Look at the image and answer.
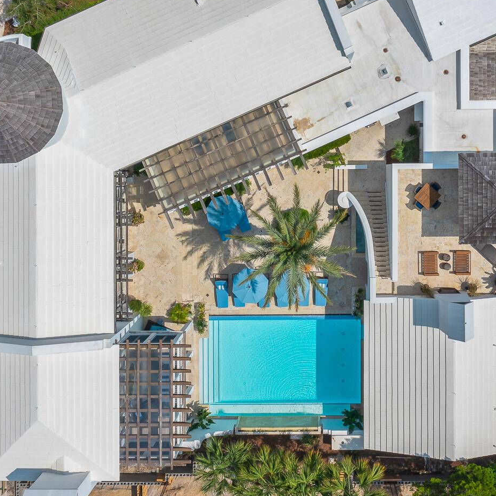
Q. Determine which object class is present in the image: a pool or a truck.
pool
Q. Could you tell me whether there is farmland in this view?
No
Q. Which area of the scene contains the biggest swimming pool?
bottom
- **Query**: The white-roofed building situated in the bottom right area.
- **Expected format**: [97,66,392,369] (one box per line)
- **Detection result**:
[361,284,496,461]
